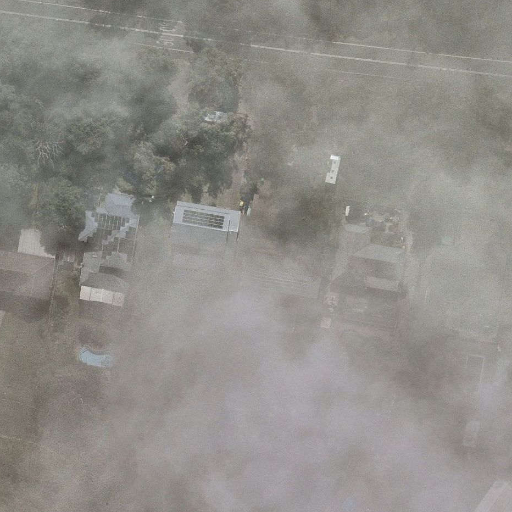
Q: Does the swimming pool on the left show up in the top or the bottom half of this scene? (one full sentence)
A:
It is in the bottom half that the swimming pool on the left appears.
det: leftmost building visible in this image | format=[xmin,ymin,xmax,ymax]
[0,229,59,300]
